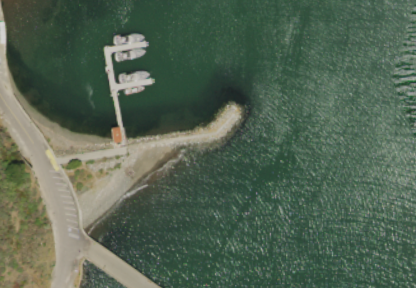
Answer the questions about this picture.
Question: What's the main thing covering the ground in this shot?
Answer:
water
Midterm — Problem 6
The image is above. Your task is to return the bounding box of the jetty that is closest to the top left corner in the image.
[104,42,155,146]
